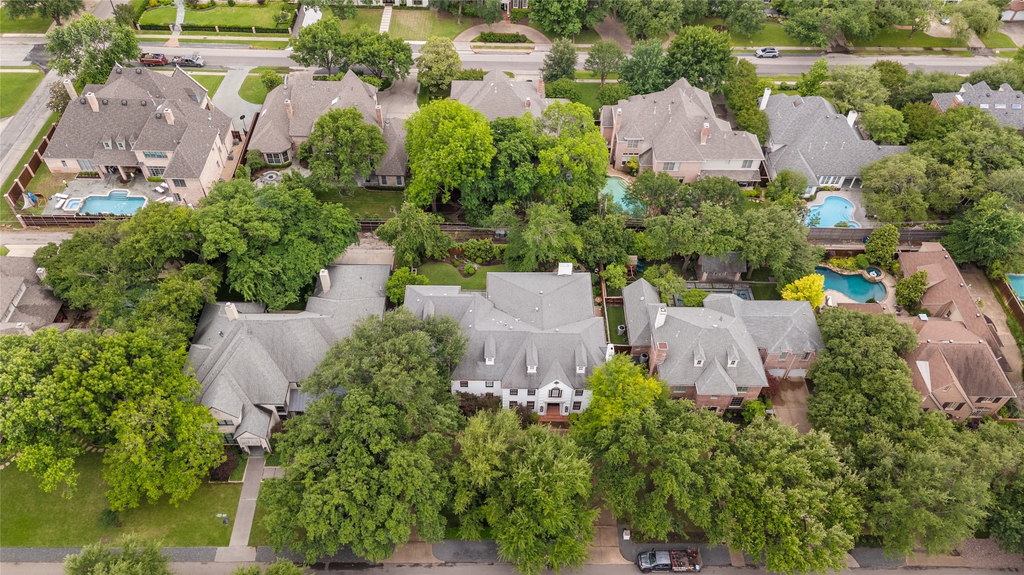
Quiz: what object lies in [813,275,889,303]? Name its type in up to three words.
swimming pool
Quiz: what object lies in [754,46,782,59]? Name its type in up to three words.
vehicle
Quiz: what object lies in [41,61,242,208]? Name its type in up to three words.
house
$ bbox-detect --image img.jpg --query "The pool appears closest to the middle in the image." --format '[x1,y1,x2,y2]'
[599,174,648,216]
